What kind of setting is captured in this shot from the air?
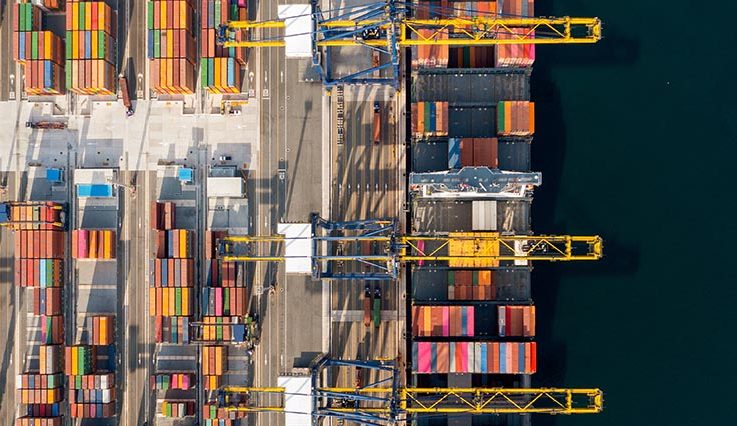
port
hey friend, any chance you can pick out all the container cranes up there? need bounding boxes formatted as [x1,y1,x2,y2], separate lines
[216,214,606,286]
[216,0,606,99]
[216,349,606,426]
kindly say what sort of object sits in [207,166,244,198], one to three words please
shed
